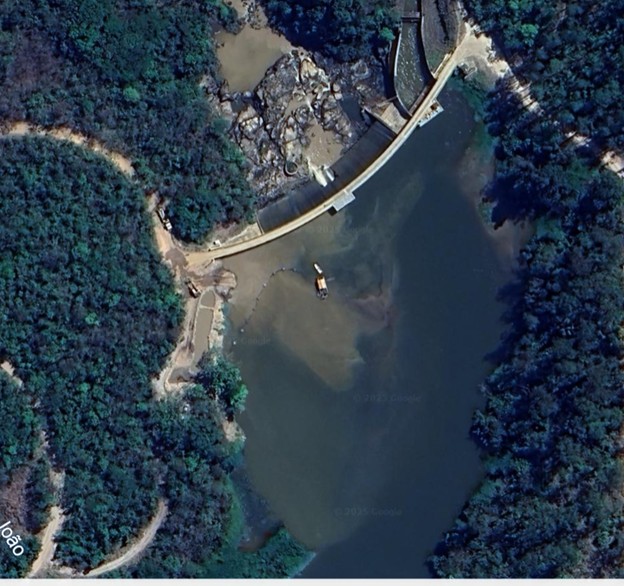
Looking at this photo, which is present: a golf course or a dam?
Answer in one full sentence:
The image shows a dam.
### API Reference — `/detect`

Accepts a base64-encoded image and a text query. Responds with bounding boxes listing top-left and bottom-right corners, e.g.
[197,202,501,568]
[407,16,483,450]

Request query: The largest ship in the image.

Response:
[317,276,333,299]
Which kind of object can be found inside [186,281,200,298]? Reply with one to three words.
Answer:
vehicle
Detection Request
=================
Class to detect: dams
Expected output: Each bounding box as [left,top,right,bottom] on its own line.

[208,40,465,259]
